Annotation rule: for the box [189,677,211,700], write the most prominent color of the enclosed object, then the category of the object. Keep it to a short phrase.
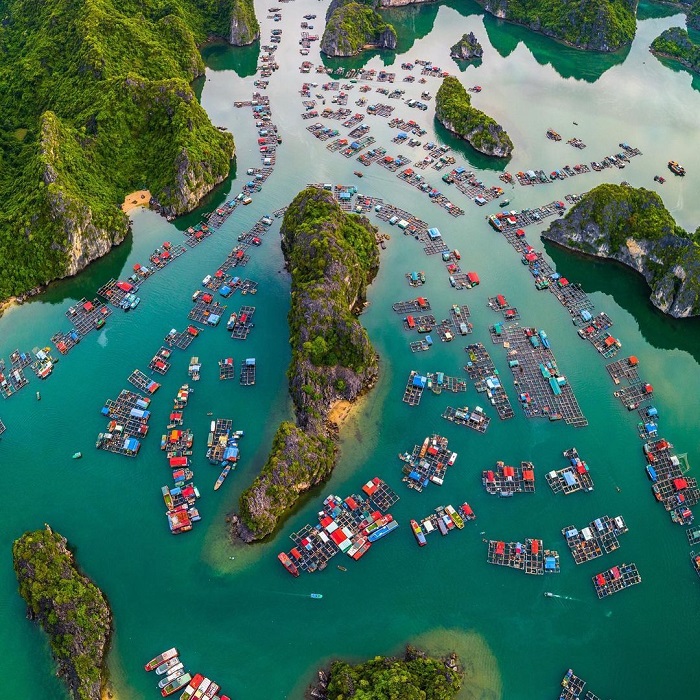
white boat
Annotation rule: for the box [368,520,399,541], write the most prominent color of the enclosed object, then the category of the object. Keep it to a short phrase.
blue boat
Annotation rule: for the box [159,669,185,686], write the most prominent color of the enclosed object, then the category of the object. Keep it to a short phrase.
white boat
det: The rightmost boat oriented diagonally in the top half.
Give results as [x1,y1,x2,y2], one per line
[668,161,686,175]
